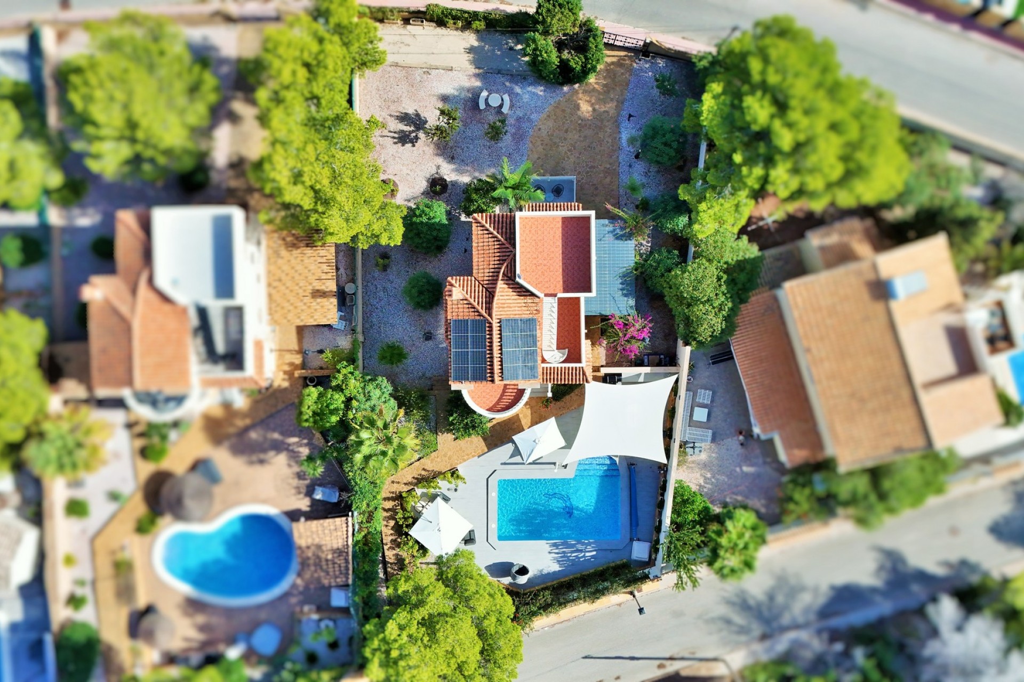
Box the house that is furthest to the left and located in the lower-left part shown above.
[0,465,72,622]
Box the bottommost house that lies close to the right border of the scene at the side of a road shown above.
[731,215,1005,471]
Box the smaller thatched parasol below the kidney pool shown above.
[134,602,181,650]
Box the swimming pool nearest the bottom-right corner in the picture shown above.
[996,343,1024,402]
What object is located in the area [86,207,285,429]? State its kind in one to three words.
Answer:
house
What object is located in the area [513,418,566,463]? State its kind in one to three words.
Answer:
umbrella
